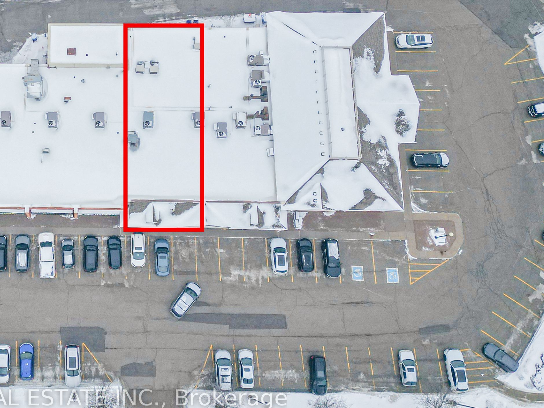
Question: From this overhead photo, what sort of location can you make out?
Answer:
parking lot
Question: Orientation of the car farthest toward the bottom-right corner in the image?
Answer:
diagonally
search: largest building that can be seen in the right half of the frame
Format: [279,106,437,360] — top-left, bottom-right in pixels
[260,11,409,212]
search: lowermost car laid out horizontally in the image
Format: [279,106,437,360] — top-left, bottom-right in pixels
[410,150,449,168]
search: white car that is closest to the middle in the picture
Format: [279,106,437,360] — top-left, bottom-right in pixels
[270,238,288,275]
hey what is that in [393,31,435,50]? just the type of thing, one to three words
car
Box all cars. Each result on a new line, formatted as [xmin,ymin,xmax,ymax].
[480,342,520,376]
[82,236,100,273]
[322,239,344,278]
[398,351,418,387]
[106,236,124,269]
[170,284,199,318]
[154,239,171,277]
[524,100,544,118]
[410,150,449,168]
[215,350,234,392]
[443,348,470,393]
[13,236,31,273]
[17,343,36,381]
[129,233,147,268]
[237,350,256,389]
[63,345,82,387]
[270,238,288,275]
[61,239,77,269]
[393,31,435,50]
[297,239,315,273]
[0,236,9,272]
[0,345,12,383]
[309,356,329,395]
